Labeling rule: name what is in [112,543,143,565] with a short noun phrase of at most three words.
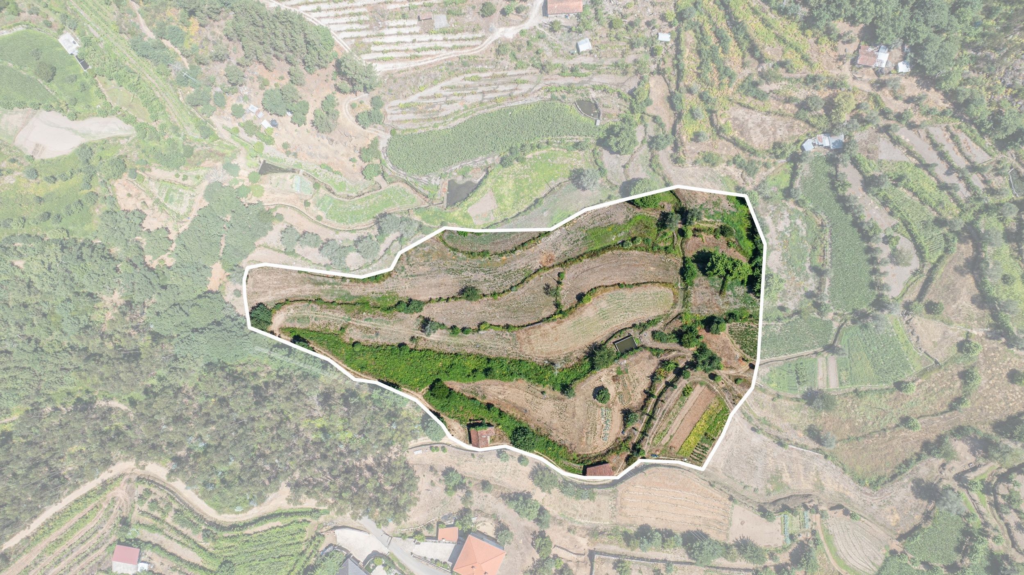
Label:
shed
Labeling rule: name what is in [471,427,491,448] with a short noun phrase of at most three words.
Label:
house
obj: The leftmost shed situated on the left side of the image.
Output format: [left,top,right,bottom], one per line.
[59,33,84,57]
